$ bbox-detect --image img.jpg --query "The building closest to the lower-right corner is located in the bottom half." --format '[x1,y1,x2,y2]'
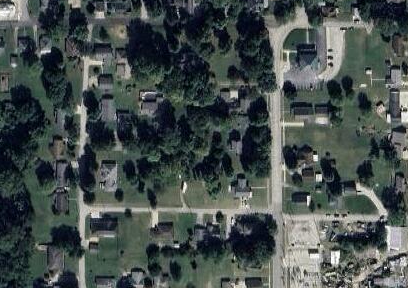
[387,227,404,252]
